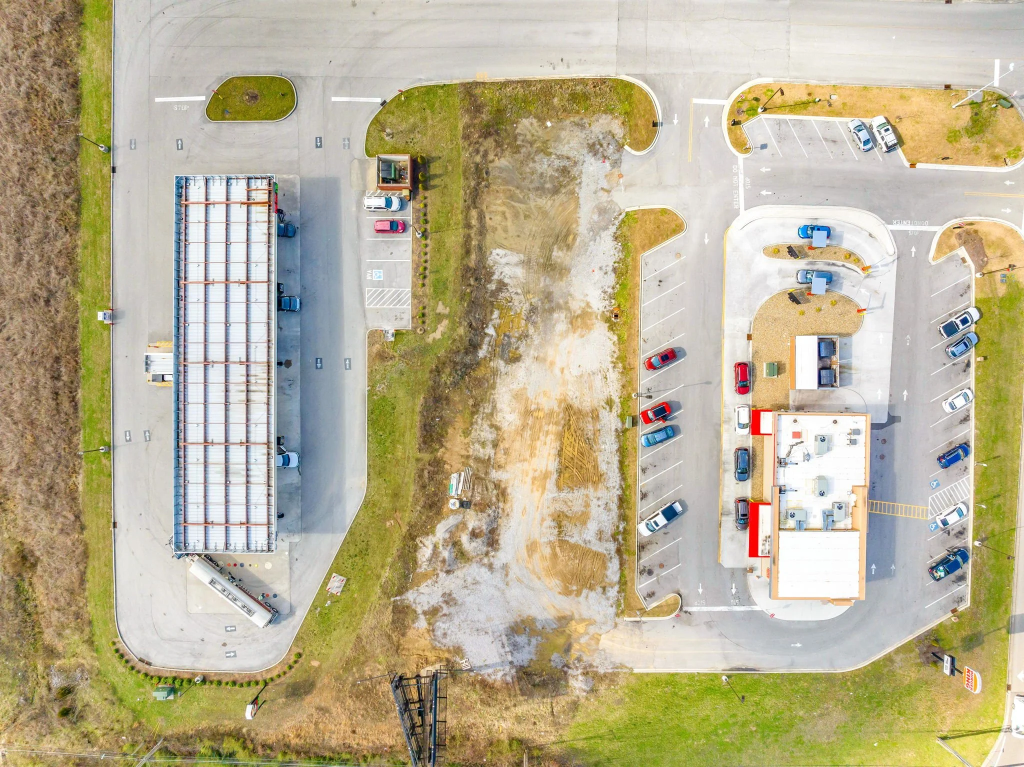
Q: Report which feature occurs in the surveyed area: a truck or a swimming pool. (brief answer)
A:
truck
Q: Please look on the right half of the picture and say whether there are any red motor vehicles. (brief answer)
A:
Yes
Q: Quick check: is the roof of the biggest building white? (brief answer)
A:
Yes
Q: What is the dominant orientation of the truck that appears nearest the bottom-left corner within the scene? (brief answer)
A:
at an angle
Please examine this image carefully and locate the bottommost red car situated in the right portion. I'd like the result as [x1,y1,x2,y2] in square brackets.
[639,401,672,425]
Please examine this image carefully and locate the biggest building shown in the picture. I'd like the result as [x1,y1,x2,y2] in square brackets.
[748,410,871,607]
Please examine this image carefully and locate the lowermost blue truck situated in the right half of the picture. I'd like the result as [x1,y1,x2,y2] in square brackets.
[927,548,971,581]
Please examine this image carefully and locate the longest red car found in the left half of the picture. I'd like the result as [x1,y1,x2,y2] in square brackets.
[374,218,405,235]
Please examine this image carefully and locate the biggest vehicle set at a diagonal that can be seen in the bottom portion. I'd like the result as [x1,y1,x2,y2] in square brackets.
[170,544,278,628]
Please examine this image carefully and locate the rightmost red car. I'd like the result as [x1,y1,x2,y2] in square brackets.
[733,361,752,395]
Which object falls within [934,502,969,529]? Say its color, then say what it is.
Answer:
white car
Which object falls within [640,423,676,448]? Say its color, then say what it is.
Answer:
blue car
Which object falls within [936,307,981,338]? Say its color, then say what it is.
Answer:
white truck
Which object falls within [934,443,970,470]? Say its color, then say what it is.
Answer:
blue car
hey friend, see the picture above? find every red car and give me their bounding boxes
[733,361,752,395]
[639,401,672,425]
[374,218,405,235]
[643,347,678,372]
